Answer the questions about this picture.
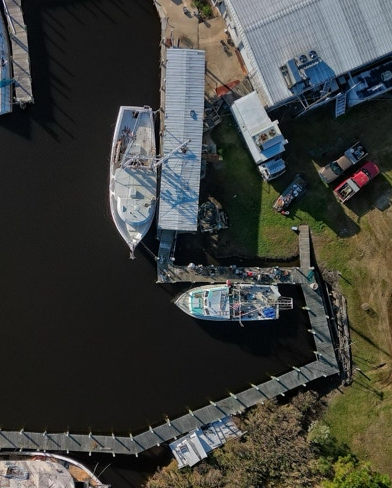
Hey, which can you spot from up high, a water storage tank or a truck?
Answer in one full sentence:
This aerial view contains a truck.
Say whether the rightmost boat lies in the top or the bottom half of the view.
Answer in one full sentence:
The top half of the photo is where the rightmost boat is.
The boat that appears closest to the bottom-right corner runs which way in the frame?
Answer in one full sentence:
In this picture, the boat that appears closest to the bottom-right corner is oriented horizontally.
